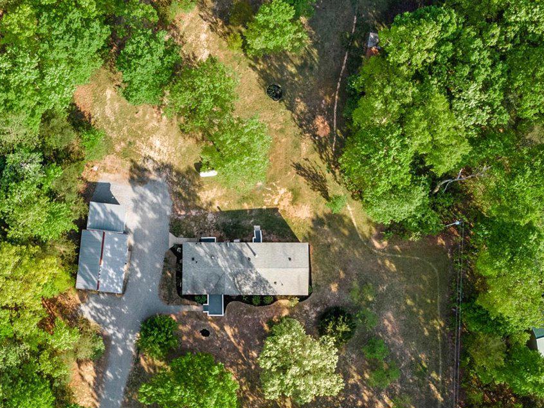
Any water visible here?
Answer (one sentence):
No, the scene doesn't show any water.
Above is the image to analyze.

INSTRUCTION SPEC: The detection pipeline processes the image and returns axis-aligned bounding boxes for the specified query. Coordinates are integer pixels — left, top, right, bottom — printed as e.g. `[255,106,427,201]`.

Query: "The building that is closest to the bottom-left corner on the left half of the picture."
[75,229,129,294]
